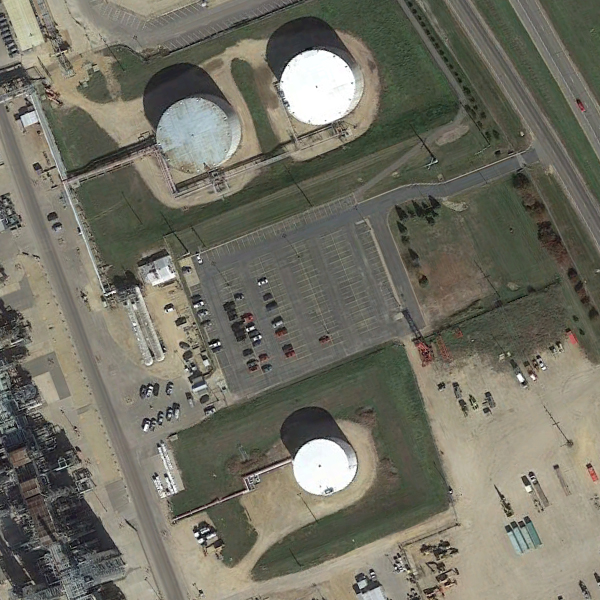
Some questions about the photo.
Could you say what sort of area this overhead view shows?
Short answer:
industrial area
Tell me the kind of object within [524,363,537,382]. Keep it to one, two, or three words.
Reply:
vehicle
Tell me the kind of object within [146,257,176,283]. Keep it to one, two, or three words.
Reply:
building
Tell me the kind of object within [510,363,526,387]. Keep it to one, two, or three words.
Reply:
vehicle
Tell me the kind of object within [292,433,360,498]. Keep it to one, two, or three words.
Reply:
storage tank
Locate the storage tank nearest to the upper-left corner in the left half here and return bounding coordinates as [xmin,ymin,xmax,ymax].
[156,92,243,174]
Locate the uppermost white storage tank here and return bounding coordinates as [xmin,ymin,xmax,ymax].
[280,45,366,127]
